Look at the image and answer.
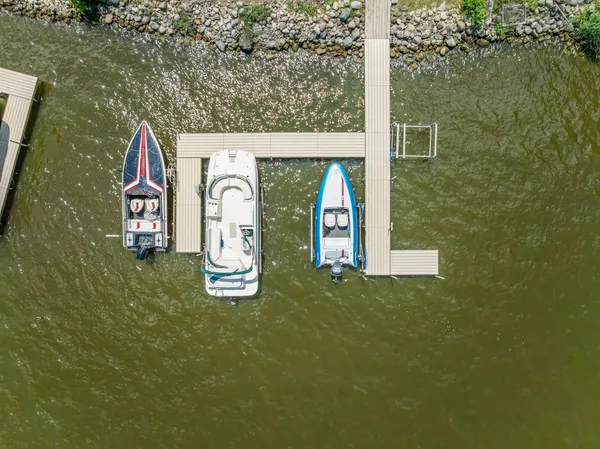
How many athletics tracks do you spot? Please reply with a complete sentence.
The photo contains no athletics tracks.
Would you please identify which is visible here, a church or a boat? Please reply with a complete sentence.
The image shows a boat.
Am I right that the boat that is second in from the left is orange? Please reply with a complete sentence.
No, the color of the boat that is second in from the left is white.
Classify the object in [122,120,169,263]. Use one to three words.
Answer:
boat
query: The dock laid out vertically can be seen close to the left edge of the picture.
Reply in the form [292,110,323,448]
[0,67,40,210]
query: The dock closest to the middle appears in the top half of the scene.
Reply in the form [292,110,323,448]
[170,36,446,281]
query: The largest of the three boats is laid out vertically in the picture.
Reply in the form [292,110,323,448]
[200,149,260,304]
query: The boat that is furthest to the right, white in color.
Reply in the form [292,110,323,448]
[315,162,358,282]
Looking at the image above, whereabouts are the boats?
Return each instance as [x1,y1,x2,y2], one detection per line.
[122,120,169,263]
[315,162,358,282]
[200,149,260,304]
